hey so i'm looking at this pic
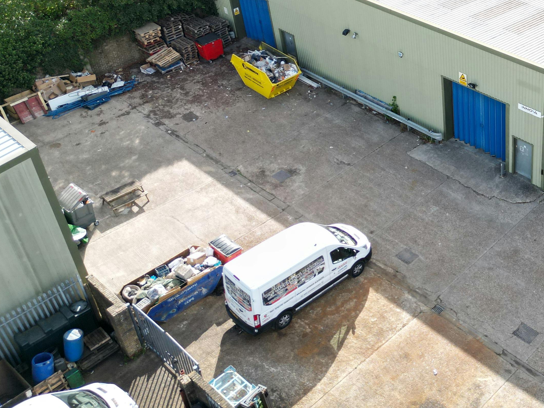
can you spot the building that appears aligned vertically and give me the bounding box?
[0,113,90,326]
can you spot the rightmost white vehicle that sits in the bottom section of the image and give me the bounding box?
[216,217,374,343]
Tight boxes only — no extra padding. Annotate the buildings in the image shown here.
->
[224,0,544,190]
[0,113,90,326]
